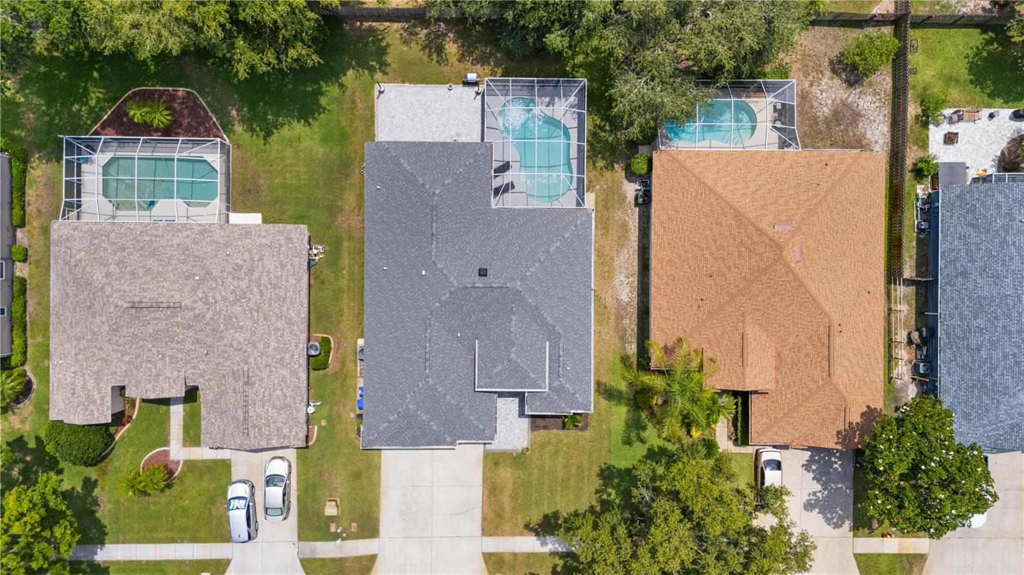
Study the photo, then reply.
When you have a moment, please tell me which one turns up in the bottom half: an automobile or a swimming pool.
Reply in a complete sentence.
You can see an automobile in the bottom half.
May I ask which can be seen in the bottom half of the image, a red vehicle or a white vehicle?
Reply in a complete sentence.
The feature located in the bottom half of the image is a white vehicle.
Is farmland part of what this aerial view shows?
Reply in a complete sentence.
No, there is no farmland in the image.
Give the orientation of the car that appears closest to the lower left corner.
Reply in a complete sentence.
The car that appears closest to the lower left corner runs up and down in the image.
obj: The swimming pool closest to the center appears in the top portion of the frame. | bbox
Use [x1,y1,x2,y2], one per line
[494,93,576,205]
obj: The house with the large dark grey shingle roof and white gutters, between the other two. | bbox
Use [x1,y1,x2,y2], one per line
[360,140,594,449]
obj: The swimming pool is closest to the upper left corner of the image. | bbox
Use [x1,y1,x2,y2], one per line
[99,154,218,214]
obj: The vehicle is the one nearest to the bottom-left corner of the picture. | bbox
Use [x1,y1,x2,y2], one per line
[226,479,260,543]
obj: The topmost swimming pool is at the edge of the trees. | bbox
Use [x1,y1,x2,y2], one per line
[660,93,761,148]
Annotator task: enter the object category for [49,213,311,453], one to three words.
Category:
house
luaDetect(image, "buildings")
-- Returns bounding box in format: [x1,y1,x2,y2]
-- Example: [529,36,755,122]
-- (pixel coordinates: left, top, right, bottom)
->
[649,149,887,451]
[0,149,12,357]
[915,183,1024,450]
[360,140,594,449]
[49,213,311,453]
